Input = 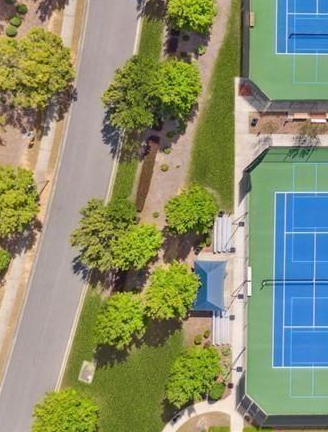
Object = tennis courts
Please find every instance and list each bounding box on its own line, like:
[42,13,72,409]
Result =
[273,164,328,397]
[276,0,328,83]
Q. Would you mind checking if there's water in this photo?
No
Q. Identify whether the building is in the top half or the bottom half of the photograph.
bottom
